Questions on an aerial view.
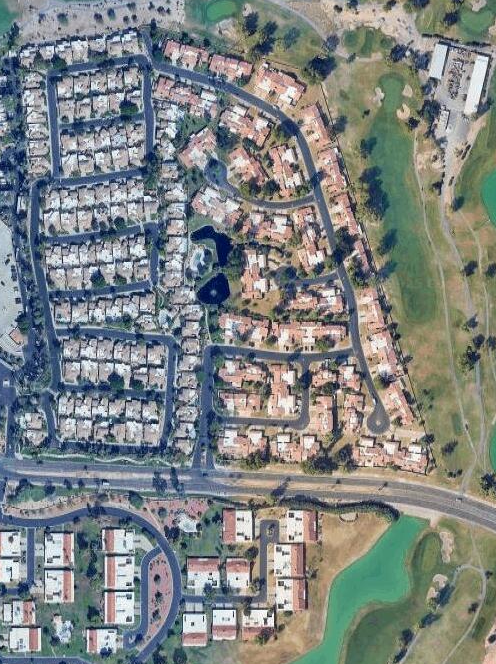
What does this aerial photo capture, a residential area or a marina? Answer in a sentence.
The area seen from above is a residential area.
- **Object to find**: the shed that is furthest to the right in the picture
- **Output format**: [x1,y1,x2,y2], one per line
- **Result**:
[465,54,490,114]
